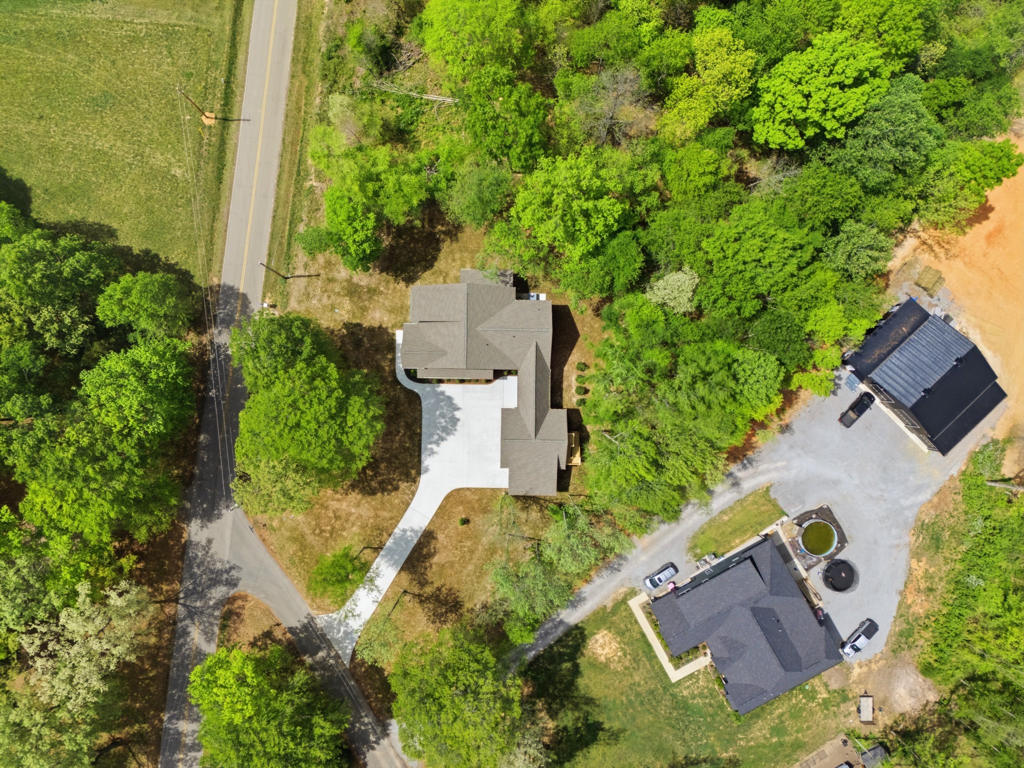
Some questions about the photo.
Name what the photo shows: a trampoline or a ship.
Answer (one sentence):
Looking from above, you can make out a trampoline.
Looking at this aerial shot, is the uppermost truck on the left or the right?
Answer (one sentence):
It is on the right.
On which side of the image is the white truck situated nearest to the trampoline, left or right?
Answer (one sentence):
It is on the right.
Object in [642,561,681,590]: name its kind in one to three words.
car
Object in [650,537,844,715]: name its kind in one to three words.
house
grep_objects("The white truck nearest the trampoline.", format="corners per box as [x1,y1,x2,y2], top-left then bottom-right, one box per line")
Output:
[841,614,883,661]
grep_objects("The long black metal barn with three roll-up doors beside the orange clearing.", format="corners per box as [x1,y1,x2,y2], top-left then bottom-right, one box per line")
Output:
[844,297,1007,456]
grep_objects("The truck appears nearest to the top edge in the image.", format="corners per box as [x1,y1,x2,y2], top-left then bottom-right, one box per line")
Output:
[837,388,880,433]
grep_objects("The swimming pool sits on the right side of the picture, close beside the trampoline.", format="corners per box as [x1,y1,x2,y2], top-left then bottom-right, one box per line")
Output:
[799,518,841,558]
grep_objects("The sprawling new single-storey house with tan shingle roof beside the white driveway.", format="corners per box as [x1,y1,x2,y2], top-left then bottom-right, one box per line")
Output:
[400,269,568,496]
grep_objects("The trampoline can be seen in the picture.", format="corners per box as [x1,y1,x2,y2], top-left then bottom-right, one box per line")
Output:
[822,559,865,597]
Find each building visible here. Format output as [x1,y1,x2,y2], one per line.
[853,737,888,768]
[650,537,844,715]
[844,297,1007,456]
[400,269,568,496]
